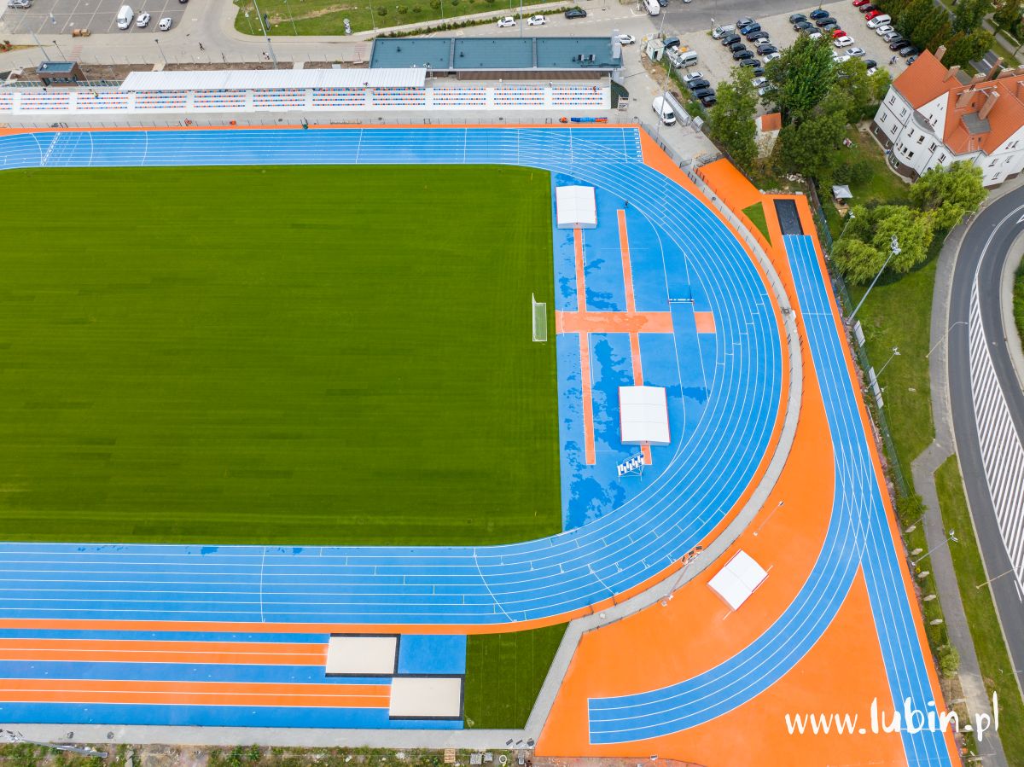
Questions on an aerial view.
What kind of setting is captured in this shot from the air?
sports ground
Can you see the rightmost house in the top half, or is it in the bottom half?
top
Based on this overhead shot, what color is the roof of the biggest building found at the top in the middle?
blue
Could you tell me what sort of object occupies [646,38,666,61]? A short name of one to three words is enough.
shed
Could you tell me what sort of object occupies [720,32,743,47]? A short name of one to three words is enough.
car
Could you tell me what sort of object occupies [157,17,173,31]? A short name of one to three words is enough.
vehicle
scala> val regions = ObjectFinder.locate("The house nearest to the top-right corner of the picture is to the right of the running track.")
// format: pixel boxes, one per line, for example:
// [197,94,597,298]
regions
[870,47,1024,188]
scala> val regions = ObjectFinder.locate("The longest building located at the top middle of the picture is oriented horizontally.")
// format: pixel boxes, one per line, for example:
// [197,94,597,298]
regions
[368,27,626,100]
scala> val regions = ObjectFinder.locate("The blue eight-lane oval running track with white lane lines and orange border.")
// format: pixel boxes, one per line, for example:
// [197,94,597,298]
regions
[0,124,790,634]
